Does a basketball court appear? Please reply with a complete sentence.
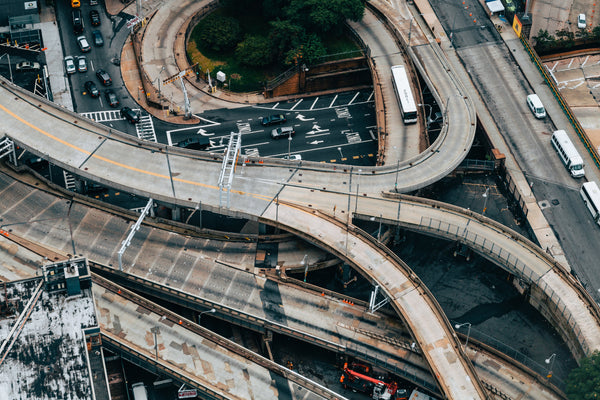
No, no basketball court can be seen from above.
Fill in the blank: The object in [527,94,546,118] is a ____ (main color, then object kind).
white vehicle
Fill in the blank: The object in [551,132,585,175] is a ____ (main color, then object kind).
white vehicle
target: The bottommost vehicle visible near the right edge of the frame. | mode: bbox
[578,182,600,225]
